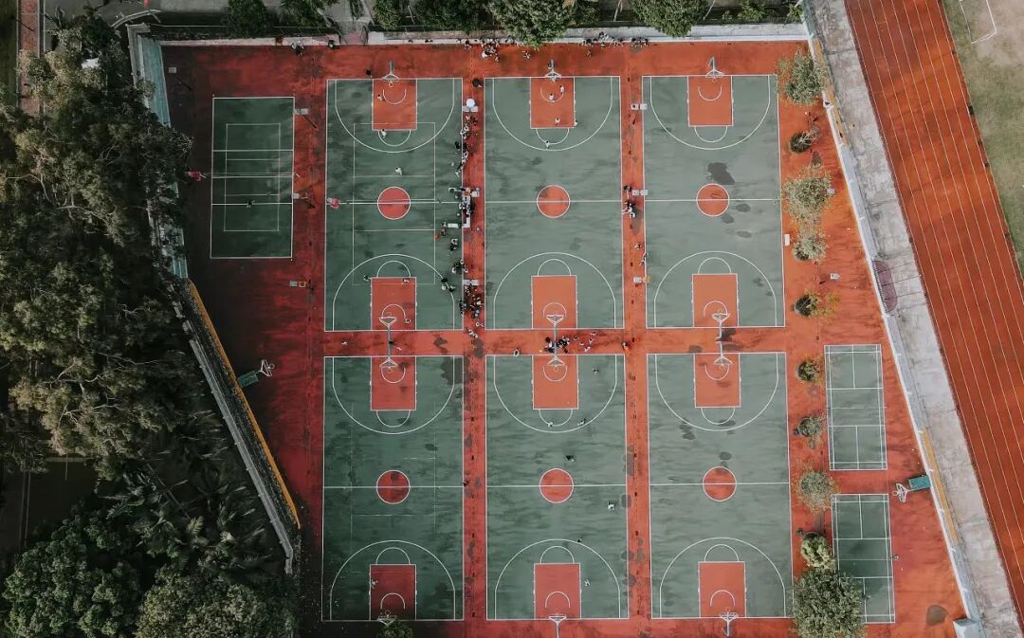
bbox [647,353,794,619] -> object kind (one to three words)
basketball court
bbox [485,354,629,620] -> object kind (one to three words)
basketball court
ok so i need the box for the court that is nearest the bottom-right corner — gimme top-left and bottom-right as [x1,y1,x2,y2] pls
[832,493,896,623]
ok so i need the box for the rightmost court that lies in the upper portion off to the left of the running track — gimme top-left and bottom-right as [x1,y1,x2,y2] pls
[641,75,785,329]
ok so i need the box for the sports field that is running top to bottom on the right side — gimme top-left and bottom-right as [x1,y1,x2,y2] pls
[946,0,1024,271]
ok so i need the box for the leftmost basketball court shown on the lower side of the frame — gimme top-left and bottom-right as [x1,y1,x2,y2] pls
[322,355,464,621]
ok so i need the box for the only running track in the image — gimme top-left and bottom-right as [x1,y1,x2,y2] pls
[845,0,1024,638]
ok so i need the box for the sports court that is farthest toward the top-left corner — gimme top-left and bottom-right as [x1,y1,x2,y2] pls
[209,96,294,259]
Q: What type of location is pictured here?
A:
sports ground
